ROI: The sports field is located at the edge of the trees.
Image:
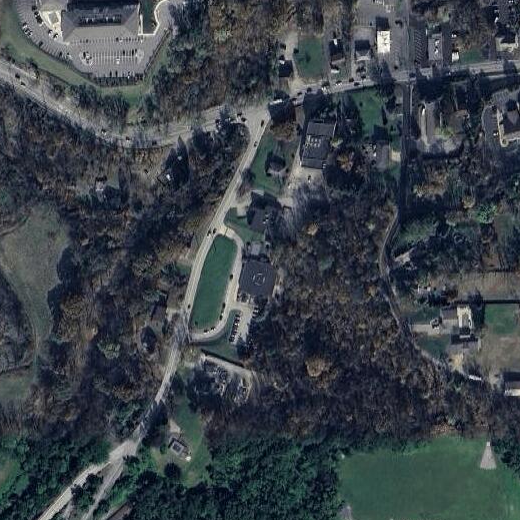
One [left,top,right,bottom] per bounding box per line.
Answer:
[335,434,520,520]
